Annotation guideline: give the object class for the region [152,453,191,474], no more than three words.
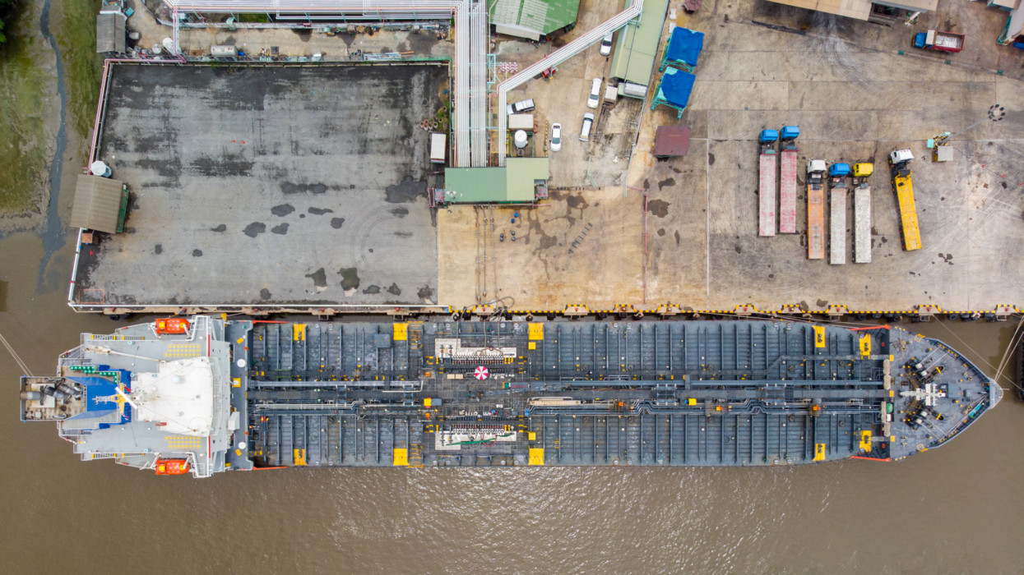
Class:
boat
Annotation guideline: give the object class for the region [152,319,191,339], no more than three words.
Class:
boat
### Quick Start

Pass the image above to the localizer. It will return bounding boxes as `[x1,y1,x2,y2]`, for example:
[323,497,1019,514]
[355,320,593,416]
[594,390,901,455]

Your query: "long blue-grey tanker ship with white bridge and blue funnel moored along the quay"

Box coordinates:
[18,314,1009,476]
